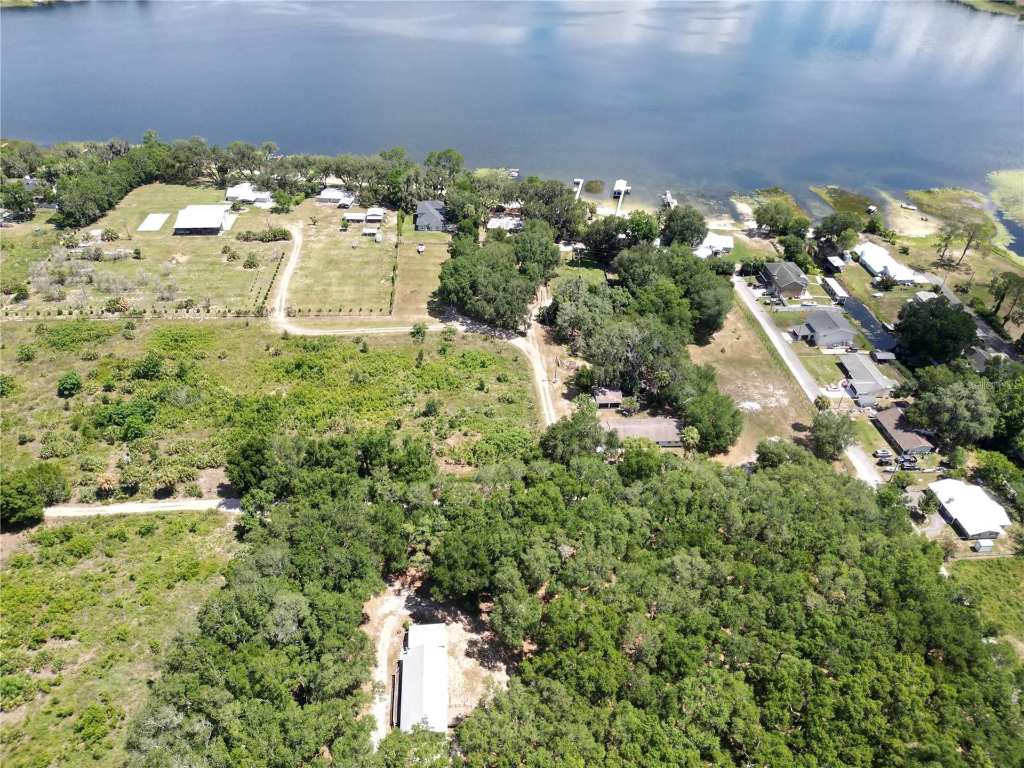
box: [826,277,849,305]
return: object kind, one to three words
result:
building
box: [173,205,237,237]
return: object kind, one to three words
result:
barn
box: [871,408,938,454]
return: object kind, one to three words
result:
house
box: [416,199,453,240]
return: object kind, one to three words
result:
house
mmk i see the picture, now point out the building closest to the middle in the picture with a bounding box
[594,389,622,409]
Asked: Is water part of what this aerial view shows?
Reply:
Yes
